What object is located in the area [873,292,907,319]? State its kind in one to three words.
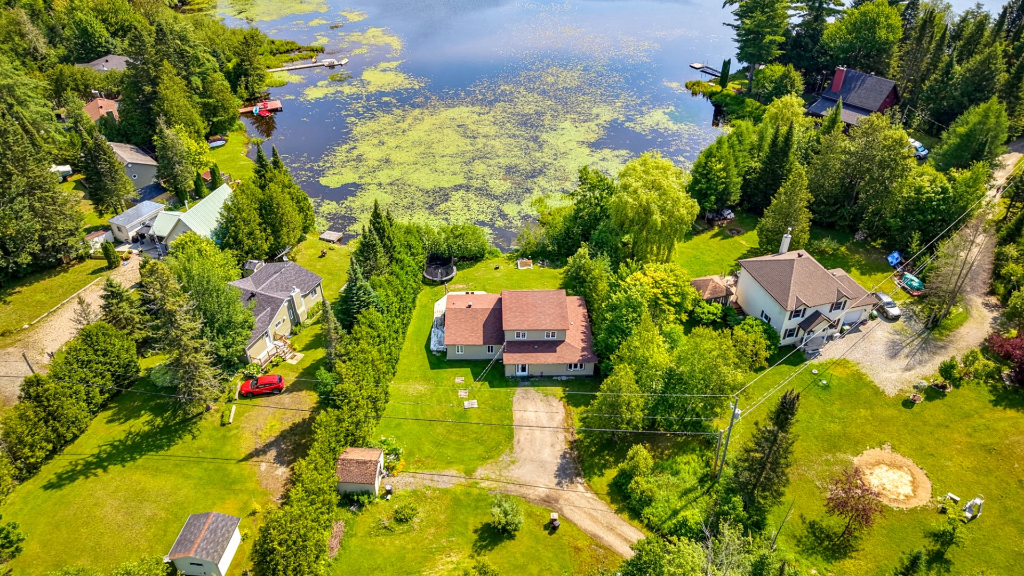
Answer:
car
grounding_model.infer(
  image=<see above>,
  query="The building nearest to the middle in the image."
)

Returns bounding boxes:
[443,290,598,383]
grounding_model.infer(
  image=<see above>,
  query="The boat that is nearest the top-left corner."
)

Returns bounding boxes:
[46,168,73,181]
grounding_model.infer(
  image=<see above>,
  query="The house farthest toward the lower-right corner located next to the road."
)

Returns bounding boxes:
[730,228,879,360]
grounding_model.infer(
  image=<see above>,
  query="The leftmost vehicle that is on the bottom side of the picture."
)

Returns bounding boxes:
[239,373,284,397]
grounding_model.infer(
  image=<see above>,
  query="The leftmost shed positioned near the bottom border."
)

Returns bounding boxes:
[162,511,241,576]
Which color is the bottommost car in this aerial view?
red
